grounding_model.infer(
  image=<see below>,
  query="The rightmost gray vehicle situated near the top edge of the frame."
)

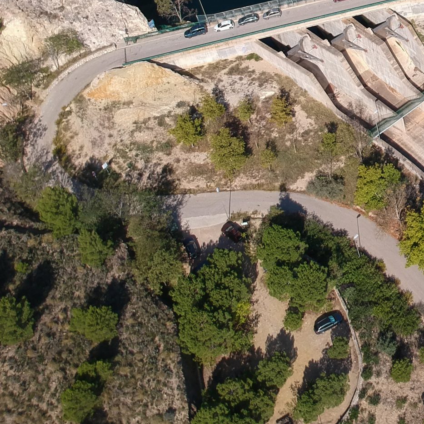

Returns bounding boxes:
[263,6,283,18]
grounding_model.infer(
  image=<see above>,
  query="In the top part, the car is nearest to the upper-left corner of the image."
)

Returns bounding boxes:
[184,22,207,36]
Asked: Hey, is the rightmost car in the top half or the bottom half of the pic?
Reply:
bottom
